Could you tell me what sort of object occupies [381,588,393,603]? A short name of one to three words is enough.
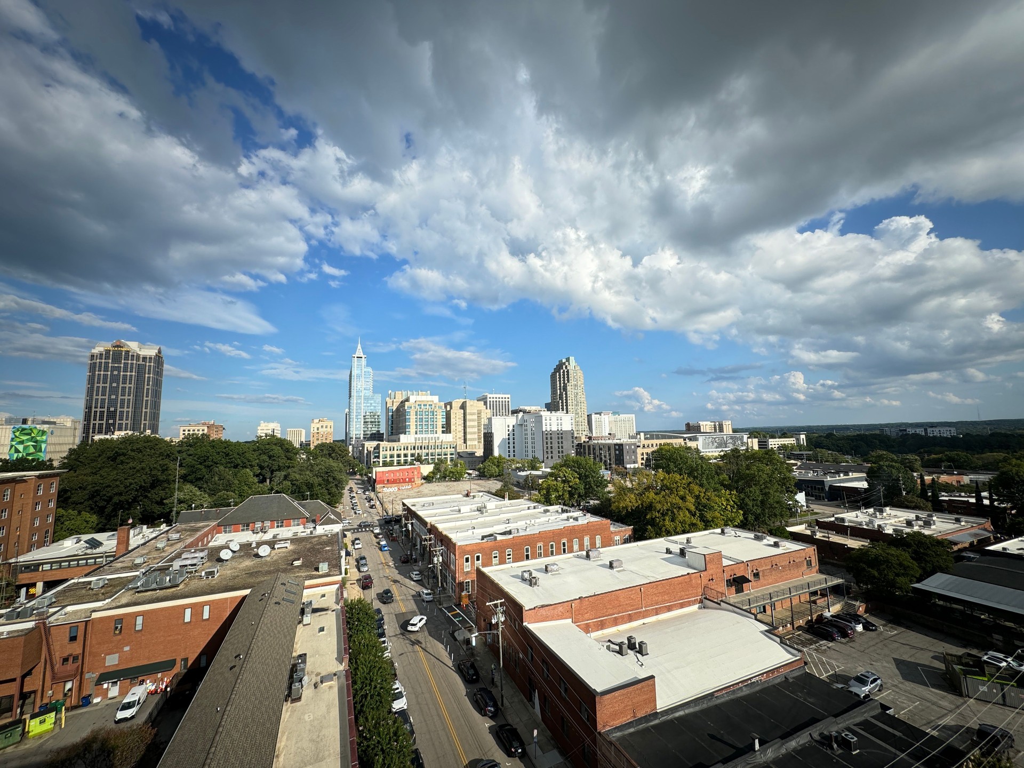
vehicle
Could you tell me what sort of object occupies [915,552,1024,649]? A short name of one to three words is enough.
building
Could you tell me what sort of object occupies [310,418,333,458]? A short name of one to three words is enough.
building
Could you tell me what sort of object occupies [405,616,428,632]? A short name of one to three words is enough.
car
